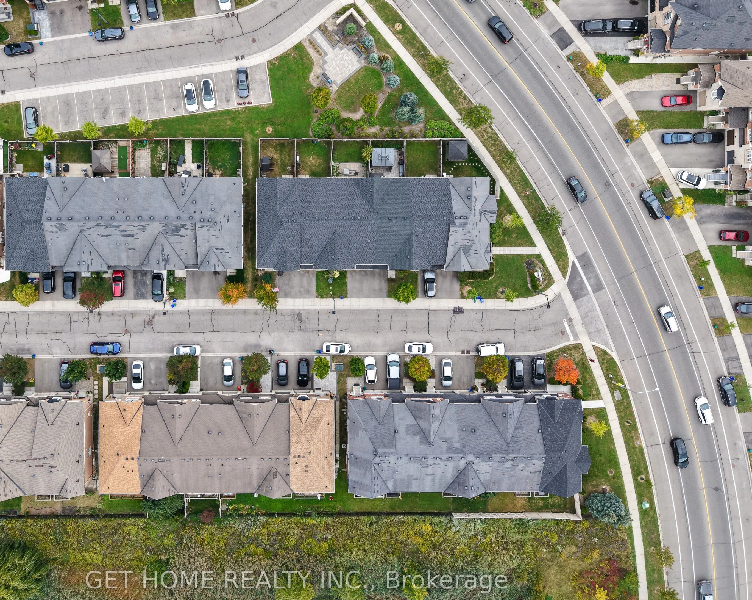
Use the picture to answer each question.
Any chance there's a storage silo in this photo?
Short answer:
No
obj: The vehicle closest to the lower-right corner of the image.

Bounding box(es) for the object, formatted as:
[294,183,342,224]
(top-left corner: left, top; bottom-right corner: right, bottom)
[696,580,715,600]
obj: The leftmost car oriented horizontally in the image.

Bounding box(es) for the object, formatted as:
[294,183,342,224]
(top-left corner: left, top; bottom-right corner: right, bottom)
[4,41,35,57]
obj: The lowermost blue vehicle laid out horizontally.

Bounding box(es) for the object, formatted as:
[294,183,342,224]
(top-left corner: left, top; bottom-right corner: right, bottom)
[90,341,122,357]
